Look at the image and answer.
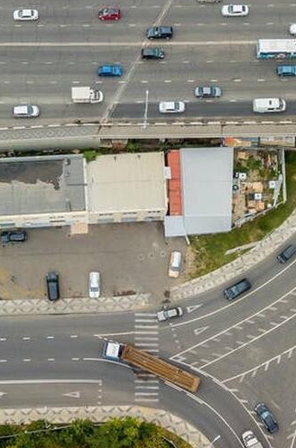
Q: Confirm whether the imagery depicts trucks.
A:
Yes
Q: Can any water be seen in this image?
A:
No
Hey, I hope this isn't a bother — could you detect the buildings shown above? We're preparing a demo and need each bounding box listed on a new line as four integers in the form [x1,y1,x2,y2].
[164,147,234,241]
[89,151,167,225]
[0,153,89,235]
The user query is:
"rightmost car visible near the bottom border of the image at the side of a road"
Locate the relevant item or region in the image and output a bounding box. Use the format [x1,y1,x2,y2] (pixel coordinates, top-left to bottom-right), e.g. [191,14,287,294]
[255,403,278,433]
